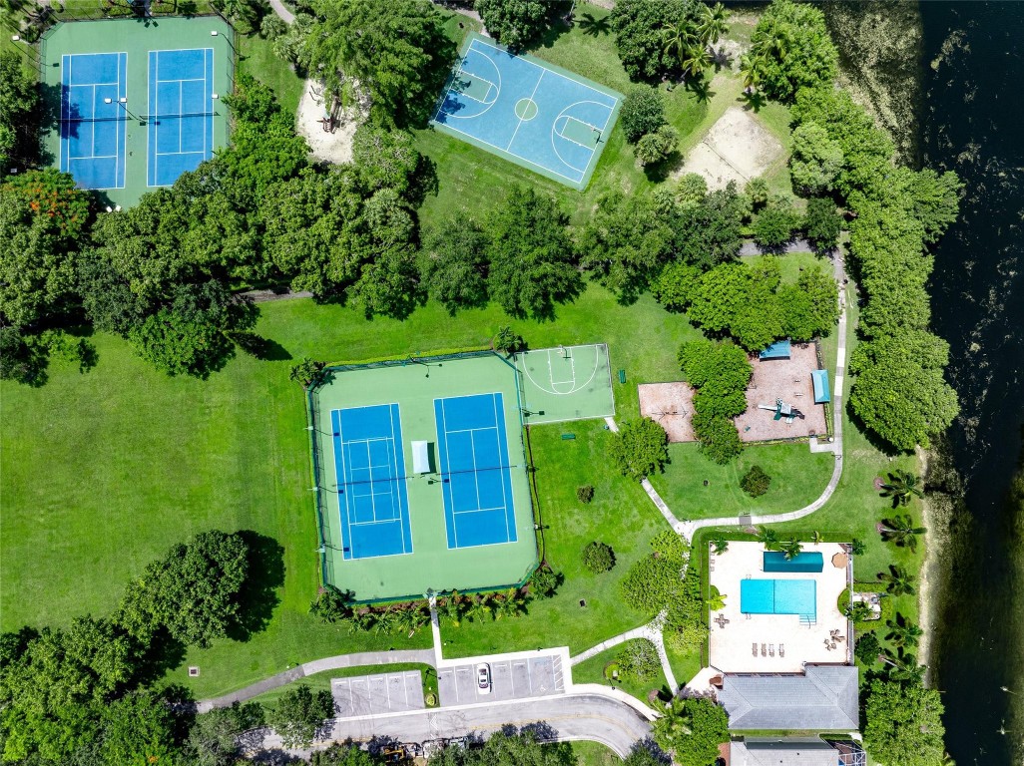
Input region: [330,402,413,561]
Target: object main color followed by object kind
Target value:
blue tennis court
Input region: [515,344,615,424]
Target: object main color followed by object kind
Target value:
green basketball court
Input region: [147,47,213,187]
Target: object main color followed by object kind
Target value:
blue tennis court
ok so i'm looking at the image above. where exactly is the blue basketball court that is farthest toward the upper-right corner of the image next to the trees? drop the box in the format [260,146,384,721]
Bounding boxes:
[432,30,625,192]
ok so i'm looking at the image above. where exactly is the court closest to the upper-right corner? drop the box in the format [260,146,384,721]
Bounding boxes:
[671,105,788,194]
